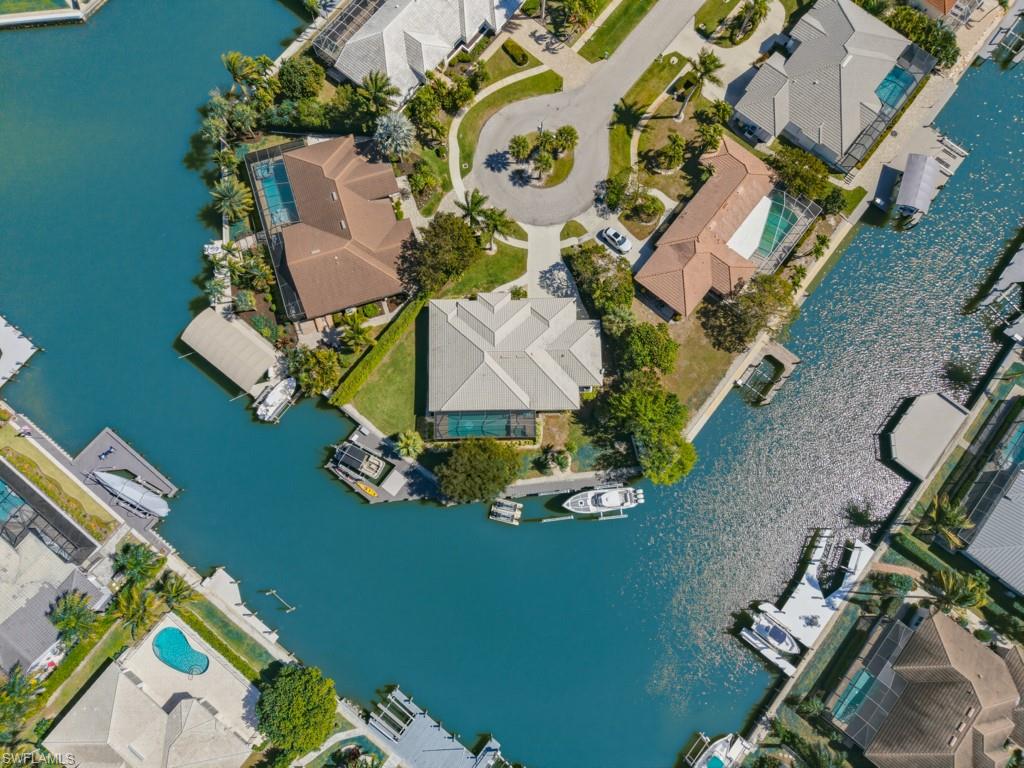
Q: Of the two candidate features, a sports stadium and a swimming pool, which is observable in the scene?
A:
swimming pool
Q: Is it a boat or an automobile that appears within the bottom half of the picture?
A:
boat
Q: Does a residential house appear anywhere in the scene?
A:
Yes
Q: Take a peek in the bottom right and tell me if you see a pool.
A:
Yes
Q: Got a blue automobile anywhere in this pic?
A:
No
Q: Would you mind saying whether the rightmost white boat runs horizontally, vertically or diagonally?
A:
diagonally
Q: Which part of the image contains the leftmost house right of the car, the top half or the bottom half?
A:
top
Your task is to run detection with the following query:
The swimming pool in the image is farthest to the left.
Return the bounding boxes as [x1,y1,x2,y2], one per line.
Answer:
[0,477,86,557]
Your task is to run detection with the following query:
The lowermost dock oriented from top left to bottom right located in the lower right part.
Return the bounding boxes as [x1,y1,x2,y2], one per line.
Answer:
[763,645,798,676]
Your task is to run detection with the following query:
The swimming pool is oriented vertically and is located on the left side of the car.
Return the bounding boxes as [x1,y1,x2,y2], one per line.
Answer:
[247,142,318,318]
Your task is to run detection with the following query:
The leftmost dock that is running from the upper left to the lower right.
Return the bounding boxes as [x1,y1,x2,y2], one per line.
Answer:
[12,414,179,557]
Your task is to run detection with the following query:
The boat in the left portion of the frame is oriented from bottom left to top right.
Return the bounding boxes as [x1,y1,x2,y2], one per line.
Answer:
[251,377,293,425]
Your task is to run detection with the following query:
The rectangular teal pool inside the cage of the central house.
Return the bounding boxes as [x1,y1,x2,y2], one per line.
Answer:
[436,409,534,438]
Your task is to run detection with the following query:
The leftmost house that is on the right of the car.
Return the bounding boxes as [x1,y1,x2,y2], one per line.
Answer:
[633,137,777,316]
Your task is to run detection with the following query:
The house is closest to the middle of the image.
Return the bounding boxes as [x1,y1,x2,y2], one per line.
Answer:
[429,293,603,411]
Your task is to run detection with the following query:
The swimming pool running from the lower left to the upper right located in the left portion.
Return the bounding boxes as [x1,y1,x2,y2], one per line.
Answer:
[317,0,385,59]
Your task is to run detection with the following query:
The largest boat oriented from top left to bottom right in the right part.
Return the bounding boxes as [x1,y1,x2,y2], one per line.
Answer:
[748,611,804,656]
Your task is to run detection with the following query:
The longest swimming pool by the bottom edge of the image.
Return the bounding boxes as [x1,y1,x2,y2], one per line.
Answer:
[827,626,895,735]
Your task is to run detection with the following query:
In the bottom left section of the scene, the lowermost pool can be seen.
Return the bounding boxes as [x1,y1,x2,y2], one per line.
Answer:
[151,624,211,677]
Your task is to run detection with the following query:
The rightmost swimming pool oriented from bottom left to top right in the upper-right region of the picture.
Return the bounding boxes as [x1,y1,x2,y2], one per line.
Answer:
[846,44,935,158]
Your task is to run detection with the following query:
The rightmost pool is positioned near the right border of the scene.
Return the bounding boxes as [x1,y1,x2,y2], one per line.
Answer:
[956,425,1024,534]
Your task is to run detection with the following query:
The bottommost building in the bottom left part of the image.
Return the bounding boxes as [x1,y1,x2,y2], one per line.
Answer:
[42,658,261,768]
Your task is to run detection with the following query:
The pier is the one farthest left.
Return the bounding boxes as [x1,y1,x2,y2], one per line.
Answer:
[0,314,43,392]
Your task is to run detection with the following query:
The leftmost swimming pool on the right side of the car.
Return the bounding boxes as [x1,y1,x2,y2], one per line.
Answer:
[743,189,819,273]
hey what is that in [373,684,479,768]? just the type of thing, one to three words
pier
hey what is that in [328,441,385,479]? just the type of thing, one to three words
boat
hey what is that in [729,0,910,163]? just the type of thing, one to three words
house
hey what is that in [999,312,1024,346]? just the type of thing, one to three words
pier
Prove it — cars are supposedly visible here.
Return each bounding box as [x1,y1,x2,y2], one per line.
[600,226,633,254]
